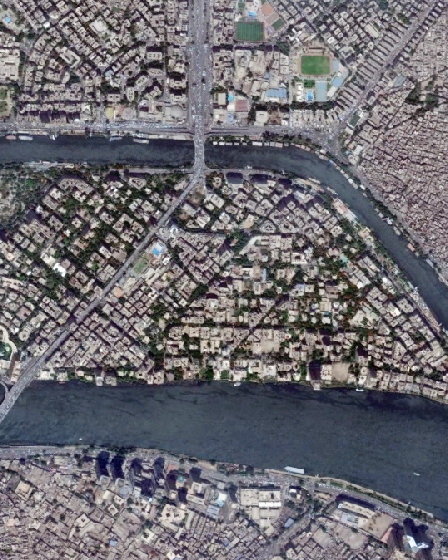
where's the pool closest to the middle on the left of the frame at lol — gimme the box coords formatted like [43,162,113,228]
[147,242,166,257]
